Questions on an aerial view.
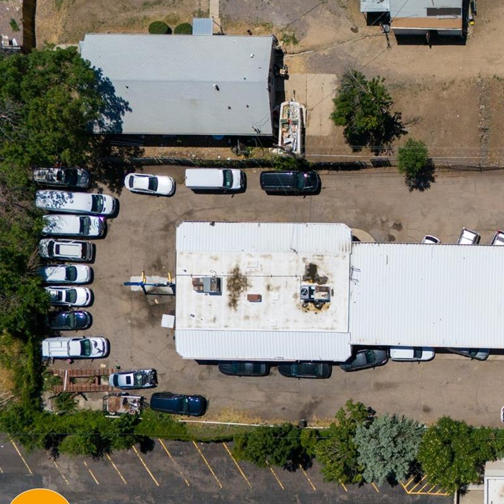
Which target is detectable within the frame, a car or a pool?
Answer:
car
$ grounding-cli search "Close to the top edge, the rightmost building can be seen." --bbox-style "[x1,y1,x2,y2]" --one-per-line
[389,0,463,42]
